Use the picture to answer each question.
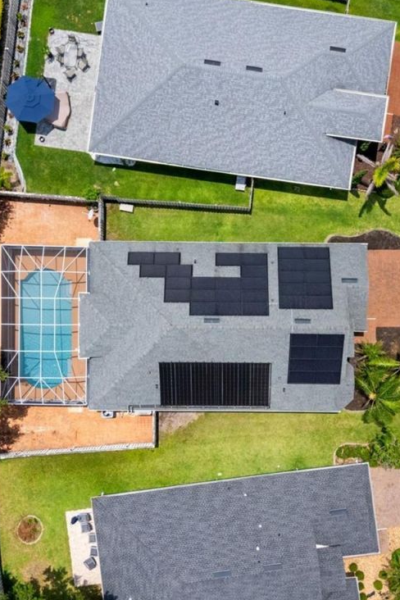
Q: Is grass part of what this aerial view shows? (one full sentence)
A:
Yes, there is grass in the image.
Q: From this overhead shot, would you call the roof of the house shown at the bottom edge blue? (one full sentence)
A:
No, from above the roof of the house shown at the bottom edge looks gray.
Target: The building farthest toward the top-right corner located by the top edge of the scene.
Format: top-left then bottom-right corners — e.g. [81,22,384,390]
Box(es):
[88,0,397,190]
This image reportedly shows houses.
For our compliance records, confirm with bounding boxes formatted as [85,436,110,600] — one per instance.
[80,241,368,412]
[88,0,397,190]
[91,462,379,600]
